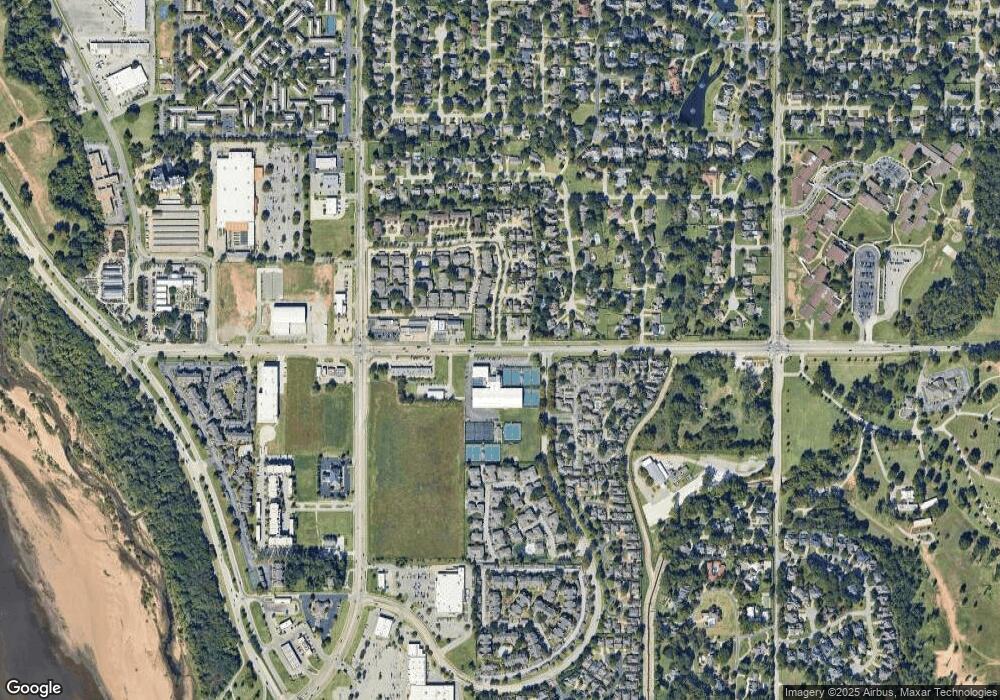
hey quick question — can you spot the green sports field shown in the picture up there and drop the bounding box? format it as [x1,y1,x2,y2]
[840,206,891,241]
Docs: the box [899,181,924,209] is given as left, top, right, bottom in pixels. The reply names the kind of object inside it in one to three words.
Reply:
building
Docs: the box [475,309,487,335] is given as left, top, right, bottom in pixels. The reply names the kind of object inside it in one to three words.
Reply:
building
